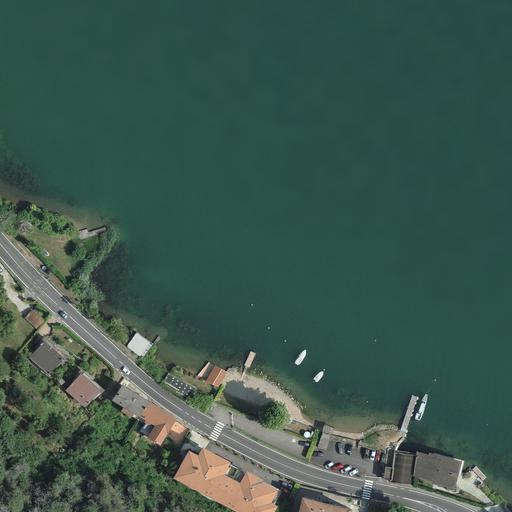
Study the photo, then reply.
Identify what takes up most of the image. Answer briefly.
water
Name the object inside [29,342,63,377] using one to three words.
house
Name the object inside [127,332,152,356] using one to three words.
building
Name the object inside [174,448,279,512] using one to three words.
building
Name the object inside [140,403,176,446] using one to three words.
house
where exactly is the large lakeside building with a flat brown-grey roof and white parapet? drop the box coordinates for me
[414,452,465,492]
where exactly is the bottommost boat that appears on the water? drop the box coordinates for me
[414,394,427,421]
